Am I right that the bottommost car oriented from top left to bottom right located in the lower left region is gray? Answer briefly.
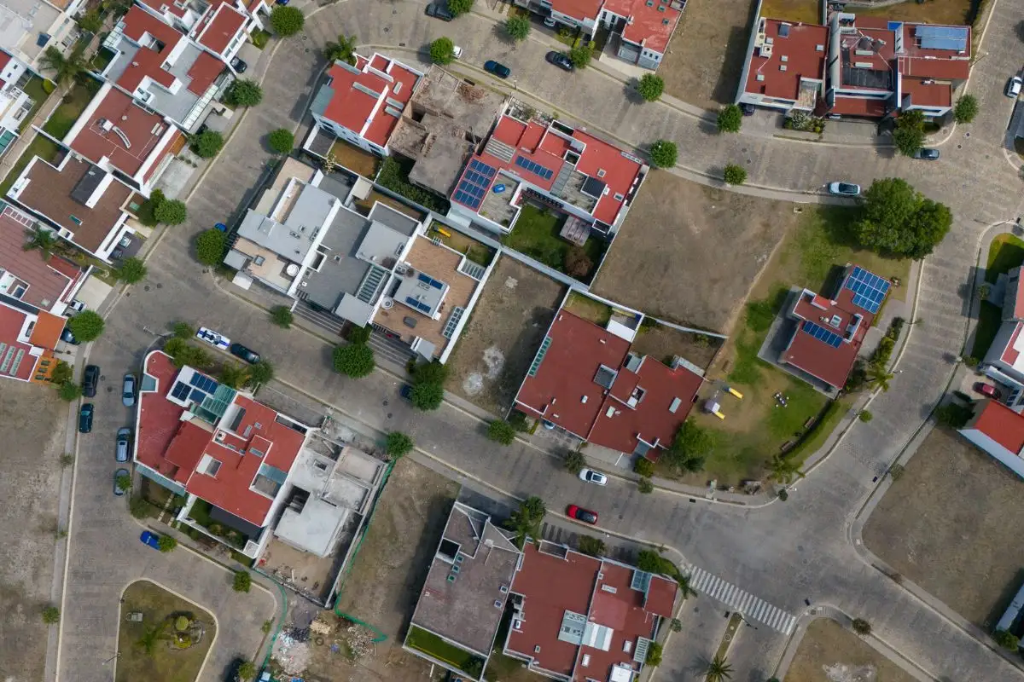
No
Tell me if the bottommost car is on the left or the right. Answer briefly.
left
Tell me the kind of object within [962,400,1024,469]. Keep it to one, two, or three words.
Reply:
house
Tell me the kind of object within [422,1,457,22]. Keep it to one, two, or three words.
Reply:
vehicle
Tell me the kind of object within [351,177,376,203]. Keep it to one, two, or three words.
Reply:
shed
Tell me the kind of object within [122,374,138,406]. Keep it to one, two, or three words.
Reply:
car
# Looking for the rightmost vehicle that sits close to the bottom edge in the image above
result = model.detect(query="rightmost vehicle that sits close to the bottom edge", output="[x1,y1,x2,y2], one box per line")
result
[222,652,245,682]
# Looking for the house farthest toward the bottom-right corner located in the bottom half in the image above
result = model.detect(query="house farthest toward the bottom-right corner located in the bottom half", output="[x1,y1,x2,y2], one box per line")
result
[996,587,1024,651]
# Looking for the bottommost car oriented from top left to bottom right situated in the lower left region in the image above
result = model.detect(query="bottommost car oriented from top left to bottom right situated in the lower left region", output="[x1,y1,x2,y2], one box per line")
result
[137,529,167,551]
